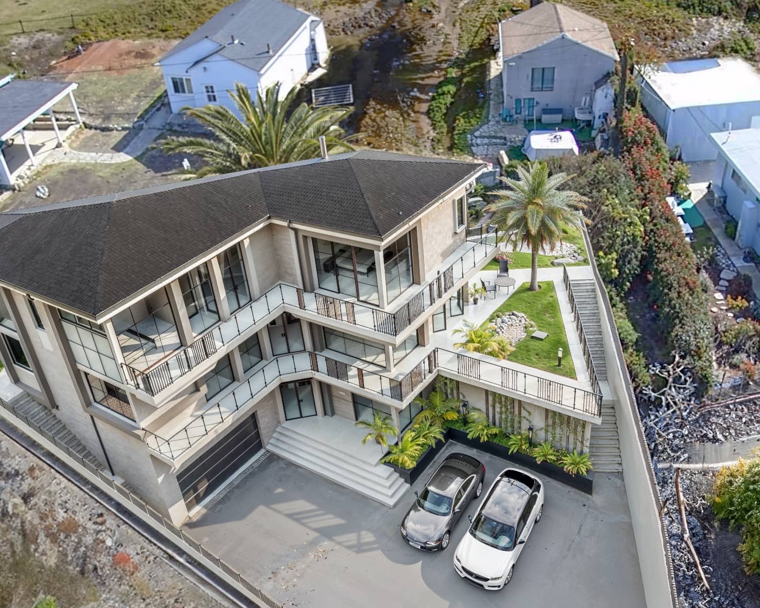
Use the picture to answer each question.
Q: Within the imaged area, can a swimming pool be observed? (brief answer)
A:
No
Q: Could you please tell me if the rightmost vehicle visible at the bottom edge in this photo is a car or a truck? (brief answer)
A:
car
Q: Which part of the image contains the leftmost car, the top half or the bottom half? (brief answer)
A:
bottom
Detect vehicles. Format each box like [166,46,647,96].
[392,457,482,558]
[444,470,540,599]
